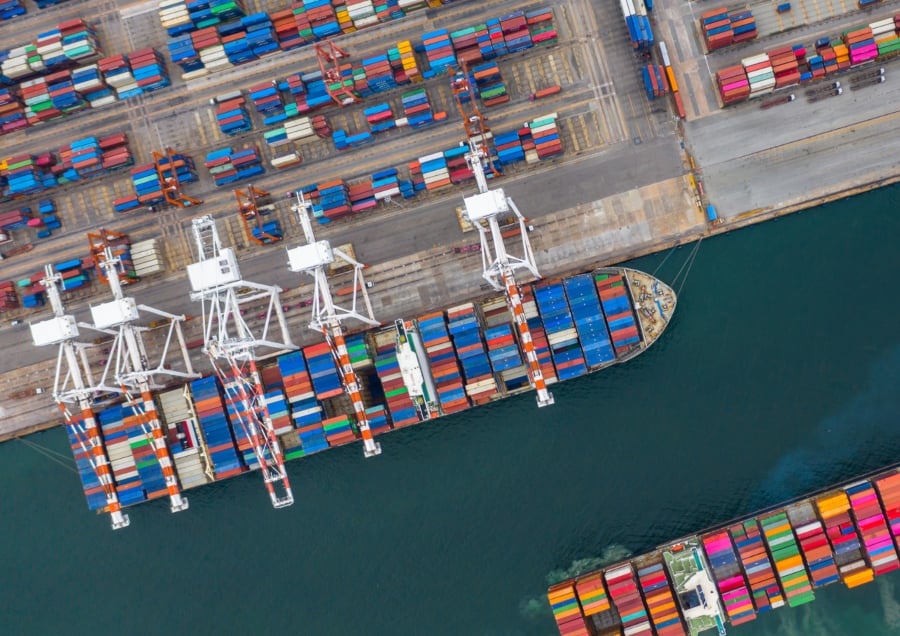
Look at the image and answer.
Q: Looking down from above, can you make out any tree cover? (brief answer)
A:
No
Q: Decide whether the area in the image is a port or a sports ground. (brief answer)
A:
port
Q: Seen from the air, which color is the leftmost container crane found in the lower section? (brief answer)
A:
white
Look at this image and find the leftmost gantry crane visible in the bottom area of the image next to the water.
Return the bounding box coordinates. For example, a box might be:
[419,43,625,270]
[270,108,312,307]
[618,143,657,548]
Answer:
[25,264,143,529]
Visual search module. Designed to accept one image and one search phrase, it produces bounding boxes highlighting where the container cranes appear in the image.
[179,208,301,507]
[232,184,283,248]
[85,246,209,512]
[25,264,143,529]
[445,59,489,129]
[149,143,204,208]
[280,191,389,456]
[464,117,505,184]
[455,141,554,406]
[84,227,142,289]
